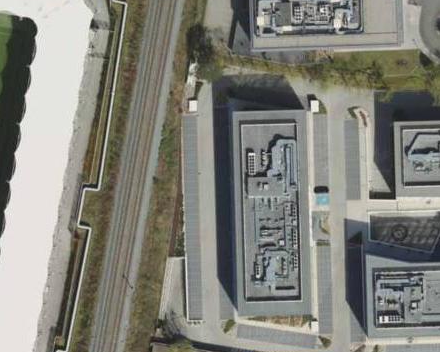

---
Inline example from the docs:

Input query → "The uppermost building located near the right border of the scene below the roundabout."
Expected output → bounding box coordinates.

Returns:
[392,118,440,199]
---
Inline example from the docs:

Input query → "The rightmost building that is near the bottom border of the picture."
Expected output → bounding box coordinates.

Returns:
[365,247,440,338]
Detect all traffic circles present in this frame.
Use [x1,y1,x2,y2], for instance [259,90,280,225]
[416,0,440,52]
